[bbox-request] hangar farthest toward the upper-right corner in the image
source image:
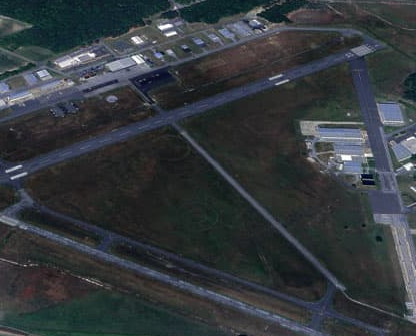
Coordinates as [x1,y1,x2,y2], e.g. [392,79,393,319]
[379,102,407,123]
